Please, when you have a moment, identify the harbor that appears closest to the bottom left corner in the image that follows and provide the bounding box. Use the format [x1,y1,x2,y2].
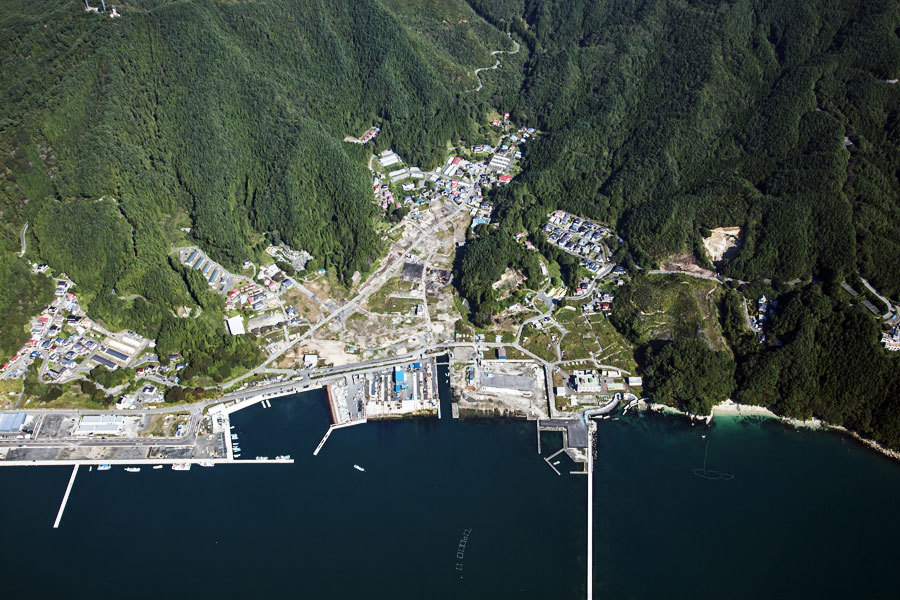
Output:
[0,383,438,465]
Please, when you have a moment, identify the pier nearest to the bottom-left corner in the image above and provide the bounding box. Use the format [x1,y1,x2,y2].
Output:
[54,464,78,529]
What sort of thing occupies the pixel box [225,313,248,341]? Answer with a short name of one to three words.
building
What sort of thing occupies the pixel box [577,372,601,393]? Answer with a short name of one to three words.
building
